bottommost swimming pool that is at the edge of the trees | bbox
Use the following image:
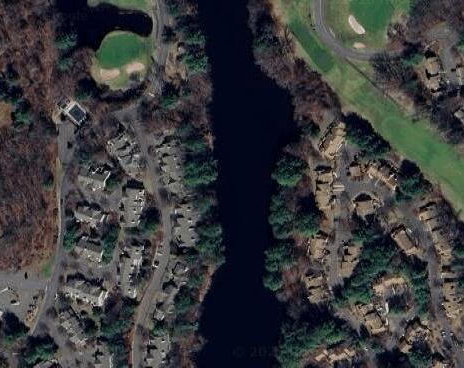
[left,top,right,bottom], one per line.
[65,102,89,124]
